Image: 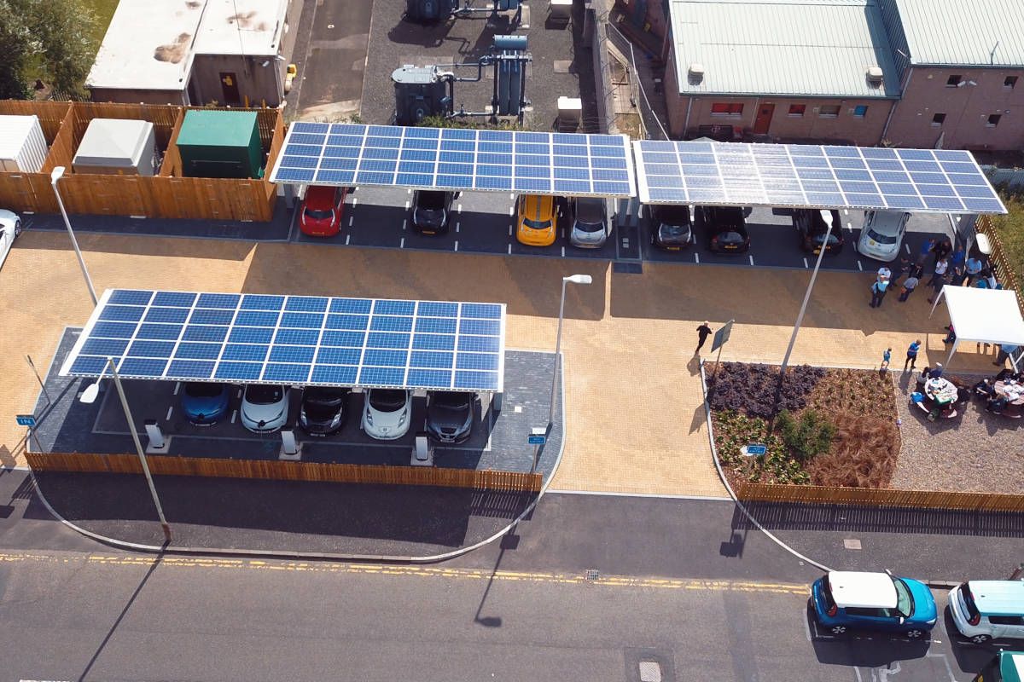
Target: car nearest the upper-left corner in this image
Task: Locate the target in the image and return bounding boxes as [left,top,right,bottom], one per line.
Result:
[0,217,25,251]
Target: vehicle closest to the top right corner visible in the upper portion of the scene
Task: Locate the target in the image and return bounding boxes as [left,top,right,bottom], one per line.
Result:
[851,215,900,260]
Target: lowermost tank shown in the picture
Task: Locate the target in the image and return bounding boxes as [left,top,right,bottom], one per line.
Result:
[391,80,439,125]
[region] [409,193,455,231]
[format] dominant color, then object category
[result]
black car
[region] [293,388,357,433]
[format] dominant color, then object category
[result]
black car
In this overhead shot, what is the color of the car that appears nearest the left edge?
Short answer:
white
